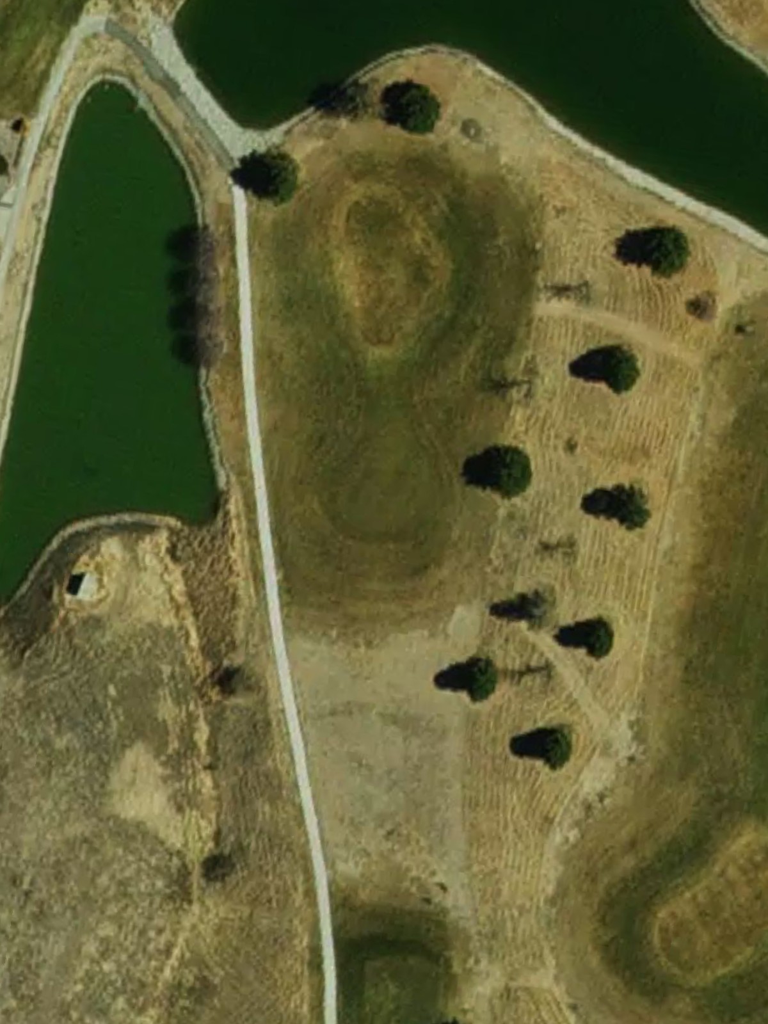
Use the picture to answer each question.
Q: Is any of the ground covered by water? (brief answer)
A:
Yes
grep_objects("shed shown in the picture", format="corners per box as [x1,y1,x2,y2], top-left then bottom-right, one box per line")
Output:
[79,574,100,601]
